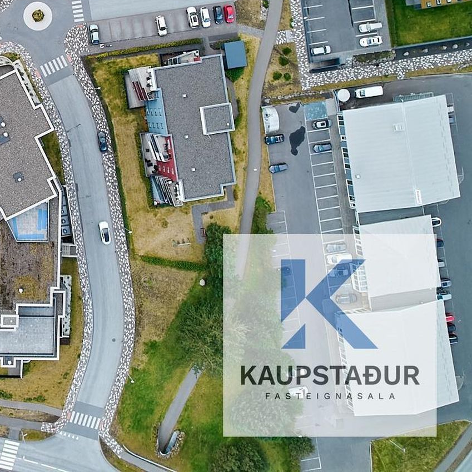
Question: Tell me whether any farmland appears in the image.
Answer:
No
